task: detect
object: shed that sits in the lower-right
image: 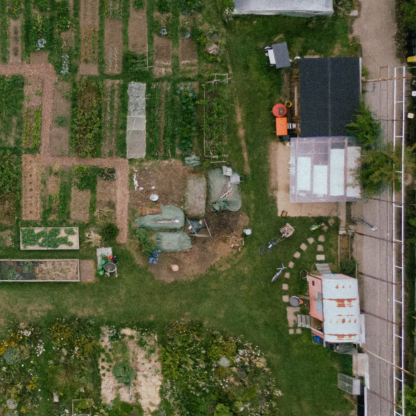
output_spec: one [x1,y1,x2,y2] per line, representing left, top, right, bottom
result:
[288,263,360,343]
